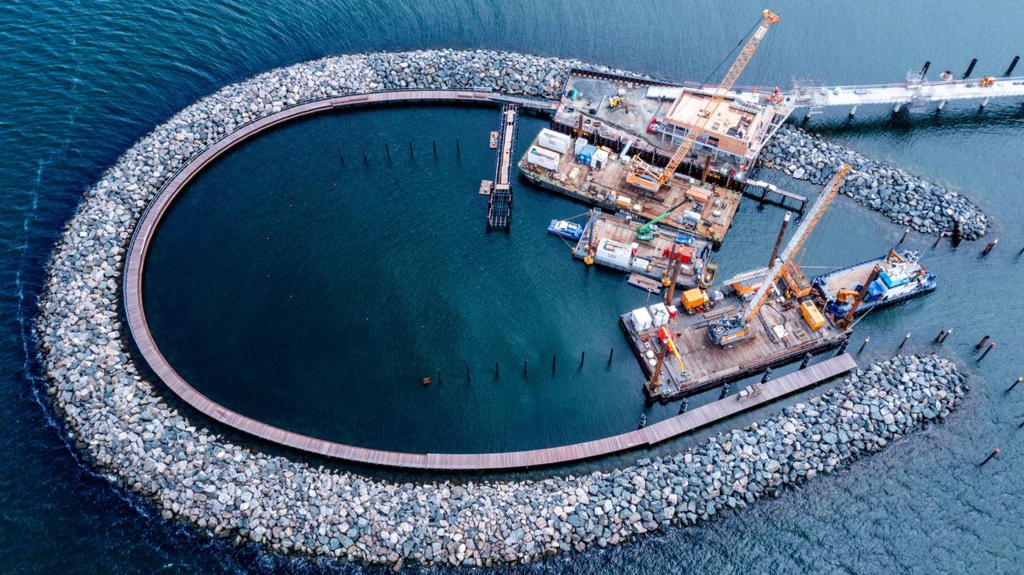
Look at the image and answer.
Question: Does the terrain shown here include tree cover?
No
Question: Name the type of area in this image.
port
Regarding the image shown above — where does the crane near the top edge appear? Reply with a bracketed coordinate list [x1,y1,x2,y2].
[626,7,780,201]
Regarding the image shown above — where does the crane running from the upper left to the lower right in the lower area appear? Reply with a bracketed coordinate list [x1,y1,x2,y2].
[652,322,686,377]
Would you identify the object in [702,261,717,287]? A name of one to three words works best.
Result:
boat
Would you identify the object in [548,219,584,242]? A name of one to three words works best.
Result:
boat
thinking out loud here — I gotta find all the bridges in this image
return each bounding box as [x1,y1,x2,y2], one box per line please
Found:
[797,71,1024,120]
